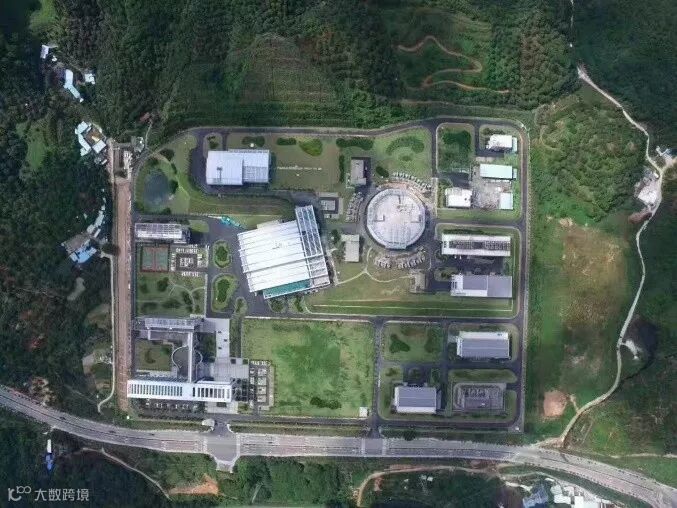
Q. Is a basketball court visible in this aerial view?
No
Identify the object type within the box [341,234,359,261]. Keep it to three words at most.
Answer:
building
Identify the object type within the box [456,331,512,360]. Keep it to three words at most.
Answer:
building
